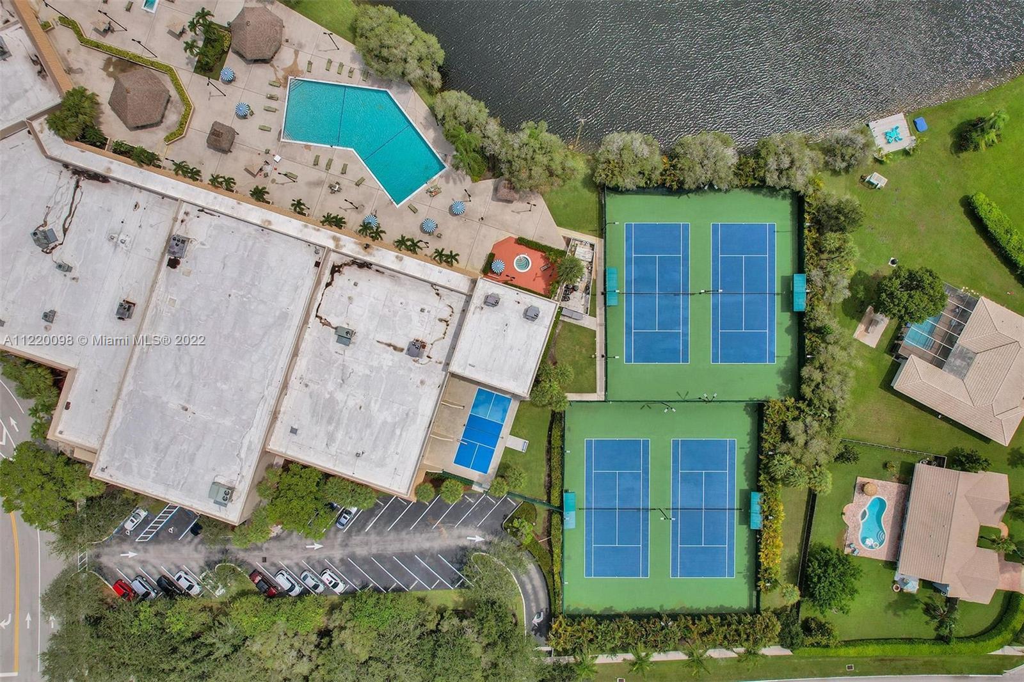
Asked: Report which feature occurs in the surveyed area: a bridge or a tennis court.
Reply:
tennis court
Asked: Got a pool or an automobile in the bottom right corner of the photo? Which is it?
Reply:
pool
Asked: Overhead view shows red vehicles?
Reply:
Yes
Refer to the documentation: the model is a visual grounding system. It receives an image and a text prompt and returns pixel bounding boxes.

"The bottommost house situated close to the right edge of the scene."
[892,463,1010,604]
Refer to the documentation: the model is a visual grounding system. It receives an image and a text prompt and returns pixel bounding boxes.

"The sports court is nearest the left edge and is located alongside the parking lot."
[453,387,512,474]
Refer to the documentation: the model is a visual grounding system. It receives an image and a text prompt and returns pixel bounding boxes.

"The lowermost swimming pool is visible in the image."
[858,495,889,552]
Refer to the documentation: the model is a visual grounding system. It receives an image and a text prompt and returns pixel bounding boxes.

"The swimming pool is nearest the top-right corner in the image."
[903,304,949,352]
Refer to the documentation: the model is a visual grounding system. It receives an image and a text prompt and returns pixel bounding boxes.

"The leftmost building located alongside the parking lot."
[0,0,560,528]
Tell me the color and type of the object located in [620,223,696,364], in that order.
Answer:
blue tennis court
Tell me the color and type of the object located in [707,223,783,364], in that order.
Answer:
blue tennis court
